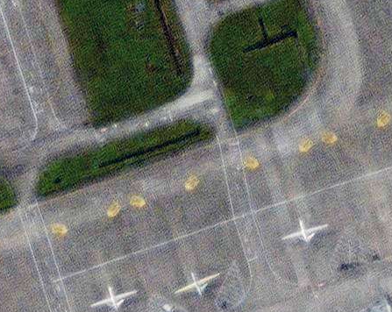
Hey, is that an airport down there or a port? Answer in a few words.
airport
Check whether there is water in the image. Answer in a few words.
No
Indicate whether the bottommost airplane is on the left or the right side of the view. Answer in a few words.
left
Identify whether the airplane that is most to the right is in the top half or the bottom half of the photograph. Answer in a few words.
bottom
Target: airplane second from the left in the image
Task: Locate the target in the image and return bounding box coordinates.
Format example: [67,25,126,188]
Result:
[174,272,221,295]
